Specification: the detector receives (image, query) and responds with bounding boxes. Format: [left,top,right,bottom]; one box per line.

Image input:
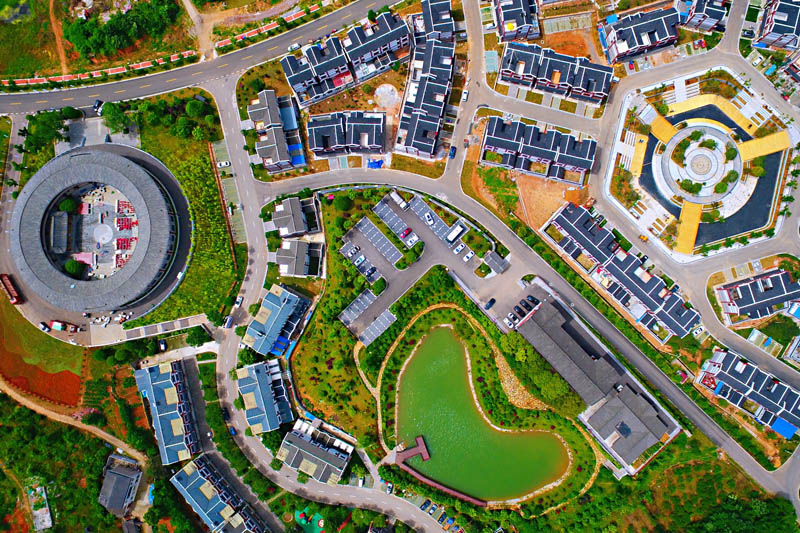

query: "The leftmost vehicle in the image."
[0,274,20,304]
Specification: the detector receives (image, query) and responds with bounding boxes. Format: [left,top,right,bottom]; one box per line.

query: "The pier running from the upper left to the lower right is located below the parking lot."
[384,436,487,507]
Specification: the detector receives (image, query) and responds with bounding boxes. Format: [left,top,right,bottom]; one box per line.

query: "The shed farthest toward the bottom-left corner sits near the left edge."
[29,486,56,531]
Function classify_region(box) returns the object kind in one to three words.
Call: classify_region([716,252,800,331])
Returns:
house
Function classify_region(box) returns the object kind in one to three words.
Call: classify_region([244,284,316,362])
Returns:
house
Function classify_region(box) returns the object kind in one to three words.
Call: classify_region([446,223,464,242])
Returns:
vehicle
